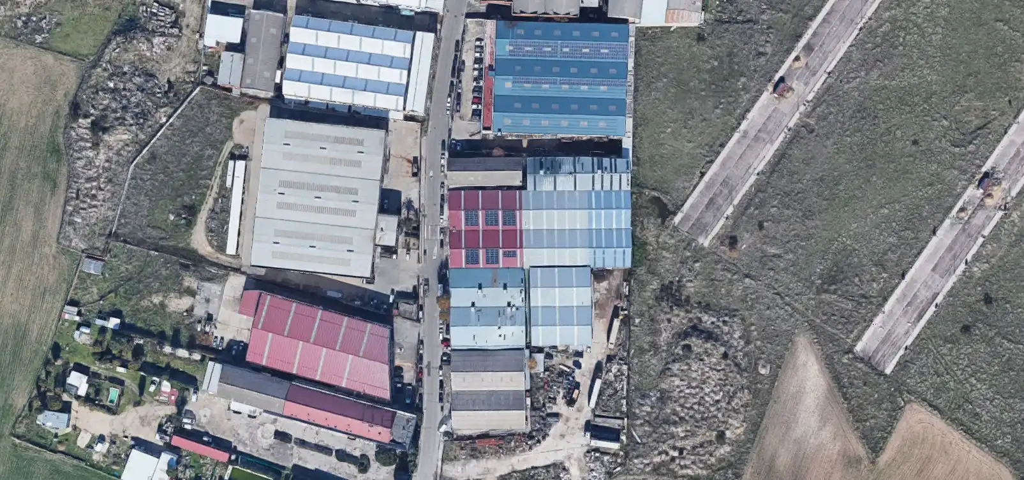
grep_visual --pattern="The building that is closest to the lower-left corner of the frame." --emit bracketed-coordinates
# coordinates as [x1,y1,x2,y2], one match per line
[36,409,73,434]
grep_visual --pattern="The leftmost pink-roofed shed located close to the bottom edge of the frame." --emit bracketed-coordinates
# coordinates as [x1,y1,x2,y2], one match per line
[171,434,233,463]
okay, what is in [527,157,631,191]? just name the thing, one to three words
building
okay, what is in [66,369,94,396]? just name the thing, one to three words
house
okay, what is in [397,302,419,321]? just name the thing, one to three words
shed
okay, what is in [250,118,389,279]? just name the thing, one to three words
warehouse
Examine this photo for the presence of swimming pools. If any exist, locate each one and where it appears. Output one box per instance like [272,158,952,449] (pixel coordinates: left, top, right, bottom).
[107,388,119,406]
